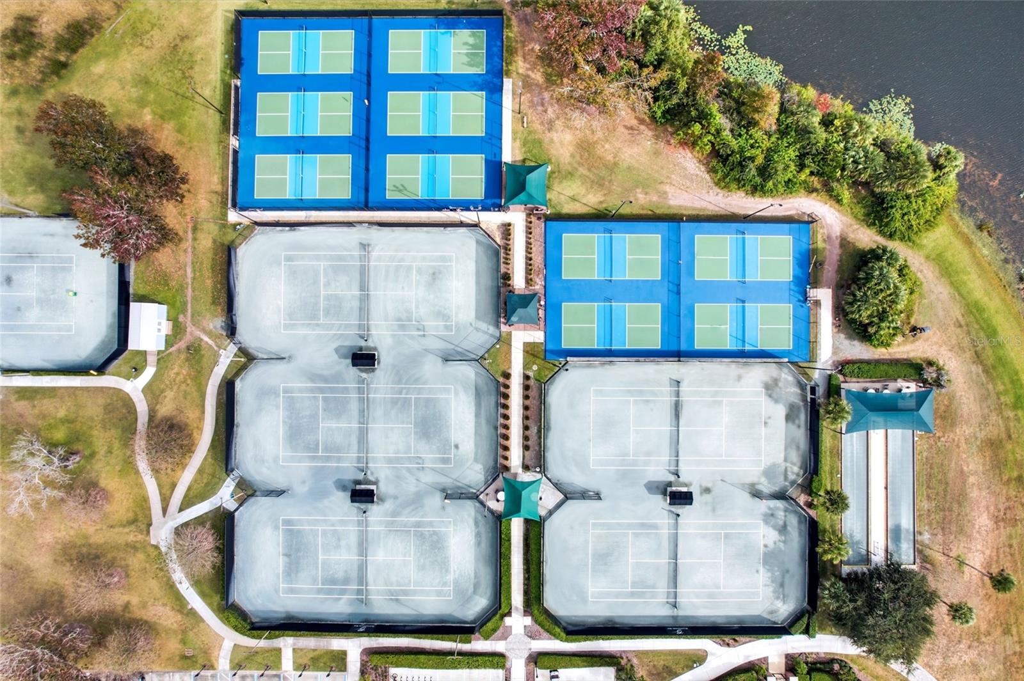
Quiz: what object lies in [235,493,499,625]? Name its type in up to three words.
tennis court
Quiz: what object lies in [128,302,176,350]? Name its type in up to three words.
building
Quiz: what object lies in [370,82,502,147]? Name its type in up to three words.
sports court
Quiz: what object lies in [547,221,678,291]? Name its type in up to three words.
sports court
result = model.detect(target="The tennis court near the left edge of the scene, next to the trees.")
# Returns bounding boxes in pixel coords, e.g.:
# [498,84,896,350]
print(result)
[0,218,129,370]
